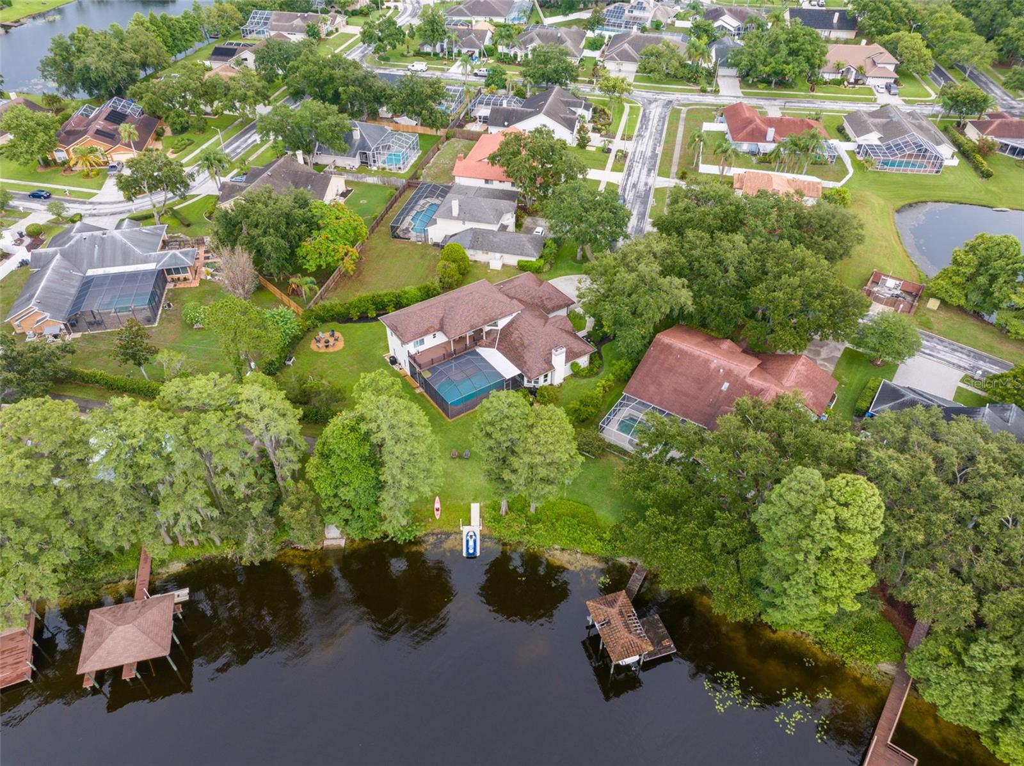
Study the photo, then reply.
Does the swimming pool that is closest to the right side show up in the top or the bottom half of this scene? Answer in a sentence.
Seen from above, the swimming pool that is closest to the right side lies in the top half of the view.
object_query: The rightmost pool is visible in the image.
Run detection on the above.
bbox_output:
[862,152,943,174]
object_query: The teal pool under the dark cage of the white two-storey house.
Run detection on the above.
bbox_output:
[409,355,507,420]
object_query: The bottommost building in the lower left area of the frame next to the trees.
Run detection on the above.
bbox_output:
[75,543,190,717]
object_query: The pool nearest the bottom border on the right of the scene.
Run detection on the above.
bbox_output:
[600,407,693,461]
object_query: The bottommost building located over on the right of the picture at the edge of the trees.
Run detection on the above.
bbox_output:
[583,562,681,693]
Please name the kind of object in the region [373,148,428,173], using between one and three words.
swimming pool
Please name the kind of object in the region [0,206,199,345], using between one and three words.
house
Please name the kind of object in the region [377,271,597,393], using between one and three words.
house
